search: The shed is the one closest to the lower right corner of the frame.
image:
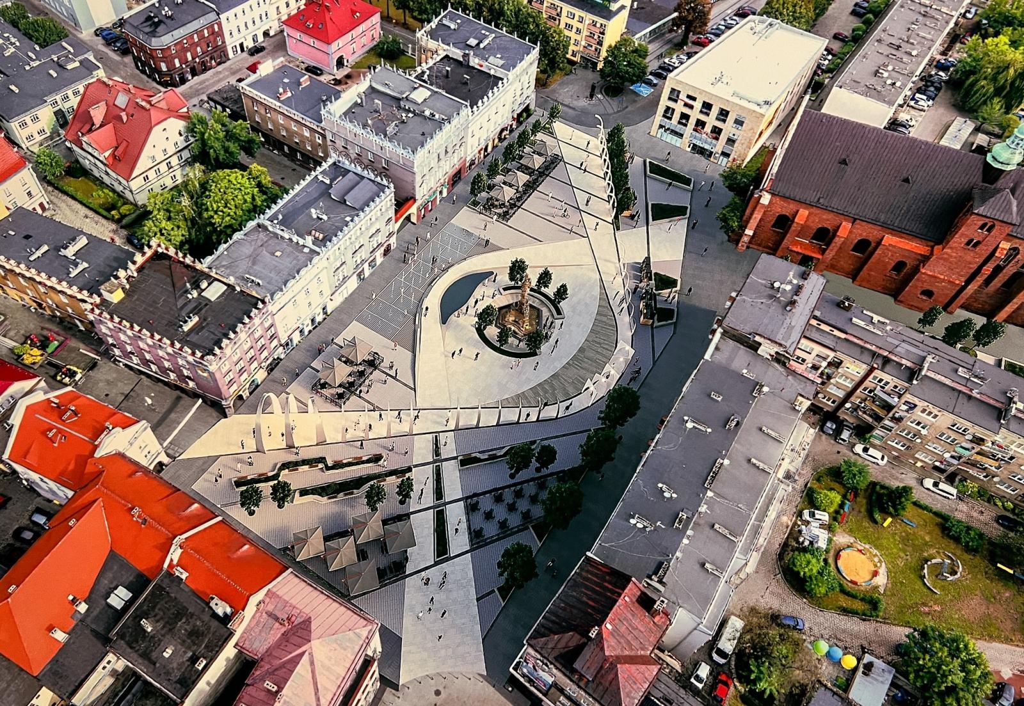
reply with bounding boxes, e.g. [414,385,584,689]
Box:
[839,654,895,706]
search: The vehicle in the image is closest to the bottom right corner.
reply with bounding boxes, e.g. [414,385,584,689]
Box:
[990,676,1020,706]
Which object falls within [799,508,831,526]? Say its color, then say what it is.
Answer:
white car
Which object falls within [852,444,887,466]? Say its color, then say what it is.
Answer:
white car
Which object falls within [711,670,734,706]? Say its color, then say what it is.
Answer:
red car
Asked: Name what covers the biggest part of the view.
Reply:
buildings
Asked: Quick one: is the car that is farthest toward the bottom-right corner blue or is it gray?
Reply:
gray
